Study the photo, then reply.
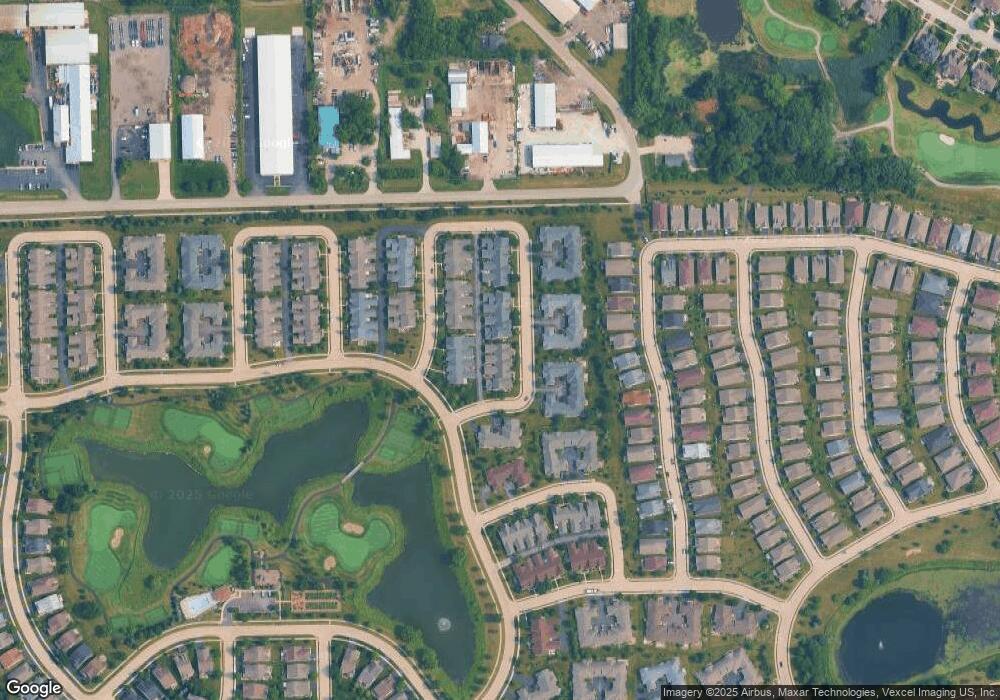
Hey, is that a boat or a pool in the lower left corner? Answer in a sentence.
The feature located in the lower left corner is a pool.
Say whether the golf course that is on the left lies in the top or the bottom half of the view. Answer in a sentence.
You can find the golf course that is on the left in the bottom half.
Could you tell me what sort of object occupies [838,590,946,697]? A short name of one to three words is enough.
pond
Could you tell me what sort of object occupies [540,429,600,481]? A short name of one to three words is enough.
building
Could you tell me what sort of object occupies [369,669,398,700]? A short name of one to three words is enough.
house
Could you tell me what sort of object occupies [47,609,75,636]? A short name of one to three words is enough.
house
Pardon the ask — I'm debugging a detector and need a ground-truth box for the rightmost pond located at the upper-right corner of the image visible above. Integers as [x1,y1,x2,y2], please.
[830,3,923,126]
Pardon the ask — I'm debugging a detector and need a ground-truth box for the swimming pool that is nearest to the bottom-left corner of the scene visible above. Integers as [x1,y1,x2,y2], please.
[182,593,215,619]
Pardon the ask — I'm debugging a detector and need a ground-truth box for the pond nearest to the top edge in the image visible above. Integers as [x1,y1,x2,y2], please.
[694,0,744,42]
